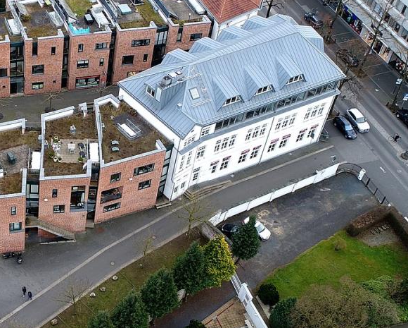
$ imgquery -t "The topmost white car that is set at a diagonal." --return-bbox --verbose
[345,107,373,130]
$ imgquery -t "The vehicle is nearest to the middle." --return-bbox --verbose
[216,216,247,236]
